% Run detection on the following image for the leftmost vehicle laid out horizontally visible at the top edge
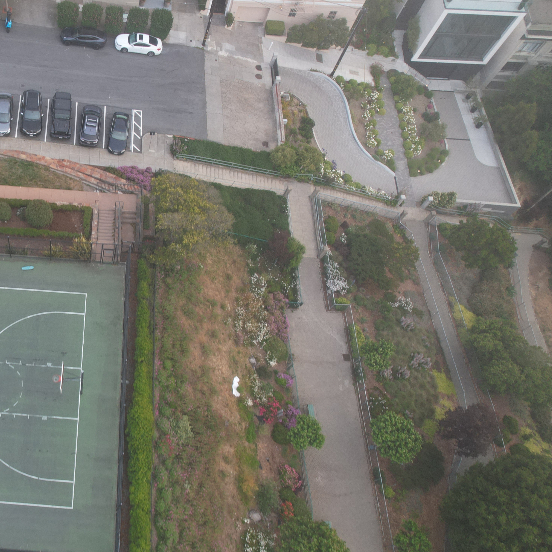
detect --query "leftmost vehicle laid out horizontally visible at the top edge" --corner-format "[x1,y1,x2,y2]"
[57,26,108,53]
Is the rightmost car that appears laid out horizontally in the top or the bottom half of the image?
top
